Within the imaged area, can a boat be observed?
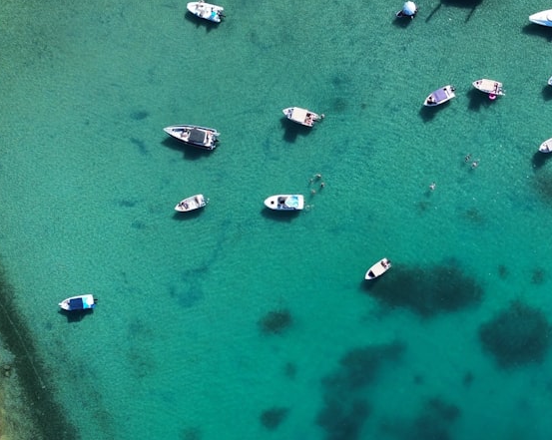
Yes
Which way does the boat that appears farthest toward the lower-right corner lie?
diagonally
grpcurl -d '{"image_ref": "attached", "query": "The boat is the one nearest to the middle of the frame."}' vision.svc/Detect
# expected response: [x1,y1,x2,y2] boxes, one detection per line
[264,194,305,209]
